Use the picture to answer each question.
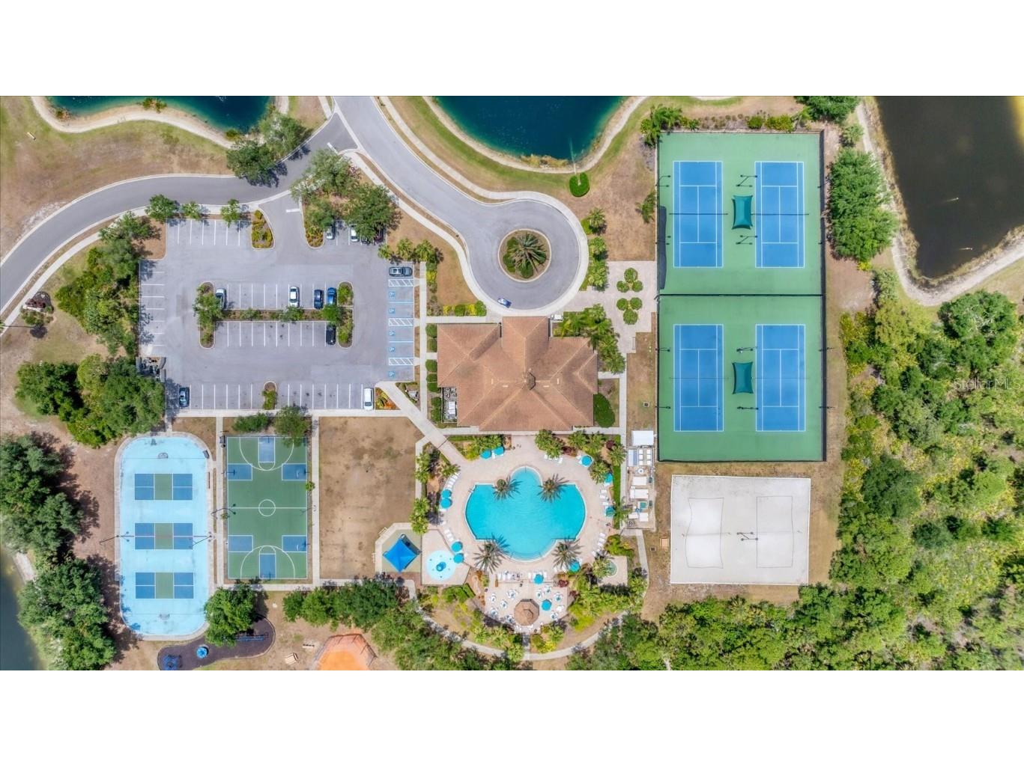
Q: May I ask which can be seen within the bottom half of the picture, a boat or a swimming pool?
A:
swimming pool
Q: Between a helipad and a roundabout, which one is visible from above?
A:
roundabout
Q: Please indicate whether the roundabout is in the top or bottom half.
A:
top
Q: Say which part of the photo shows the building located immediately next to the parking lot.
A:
center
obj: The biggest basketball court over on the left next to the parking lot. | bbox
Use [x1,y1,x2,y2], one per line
[225,436,309,581]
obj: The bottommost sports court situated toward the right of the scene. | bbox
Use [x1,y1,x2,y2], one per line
[670,475,811,586]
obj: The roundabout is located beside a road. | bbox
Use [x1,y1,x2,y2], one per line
[471,198,582,311]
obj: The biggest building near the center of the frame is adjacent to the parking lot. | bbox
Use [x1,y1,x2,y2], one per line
[437,316,598,431]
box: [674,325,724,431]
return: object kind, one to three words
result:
tennis court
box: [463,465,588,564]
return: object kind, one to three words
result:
swimming pool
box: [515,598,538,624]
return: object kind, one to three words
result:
gazebo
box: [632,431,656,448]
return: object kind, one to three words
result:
shed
